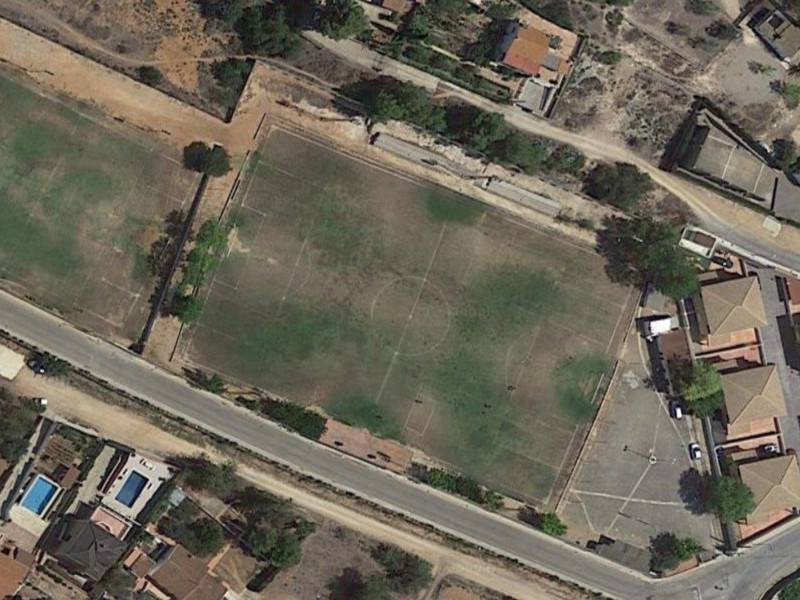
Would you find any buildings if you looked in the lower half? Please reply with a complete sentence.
Yes, the scene does show a building in the lower half.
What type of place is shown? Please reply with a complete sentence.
What you see here is a sports ground.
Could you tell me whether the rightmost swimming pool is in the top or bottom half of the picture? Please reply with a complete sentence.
The rightmost swimming pool sits in the bottom half of the picture.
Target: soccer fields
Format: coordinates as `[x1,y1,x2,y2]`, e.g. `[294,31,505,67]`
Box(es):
[0,76,200,348]
[172,118,645,509]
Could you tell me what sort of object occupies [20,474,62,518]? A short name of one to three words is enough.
swimming pool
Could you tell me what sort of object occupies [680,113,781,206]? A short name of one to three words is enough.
tennis court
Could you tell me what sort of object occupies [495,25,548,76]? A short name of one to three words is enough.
house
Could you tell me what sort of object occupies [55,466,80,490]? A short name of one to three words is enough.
building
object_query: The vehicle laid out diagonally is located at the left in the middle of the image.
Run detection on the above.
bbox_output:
[26,355,44,371]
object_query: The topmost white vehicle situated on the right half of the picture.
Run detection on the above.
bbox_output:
[649,319,679,336]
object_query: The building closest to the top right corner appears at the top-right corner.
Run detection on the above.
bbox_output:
[746,9,800,62]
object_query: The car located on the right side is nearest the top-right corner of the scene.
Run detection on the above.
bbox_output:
[715,255,730,269]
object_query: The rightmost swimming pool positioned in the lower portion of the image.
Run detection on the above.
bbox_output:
[99,452,177,521]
